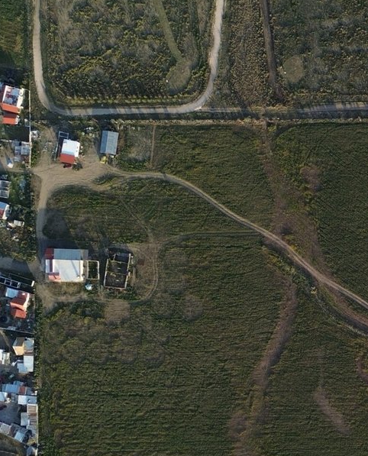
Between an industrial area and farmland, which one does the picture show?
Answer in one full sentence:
It's farmland.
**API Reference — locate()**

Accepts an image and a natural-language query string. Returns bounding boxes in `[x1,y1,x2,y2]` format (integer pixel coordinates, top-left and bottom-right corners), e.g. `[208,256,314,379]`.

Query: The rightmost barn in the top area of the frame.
[99,130,122,156]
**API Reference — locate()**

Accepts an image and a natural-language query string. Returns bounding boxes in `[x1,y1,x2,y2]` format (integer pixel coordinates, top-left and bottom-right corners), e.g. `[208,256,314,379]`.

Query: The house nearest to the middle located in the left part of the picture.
[106,253,134,290]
